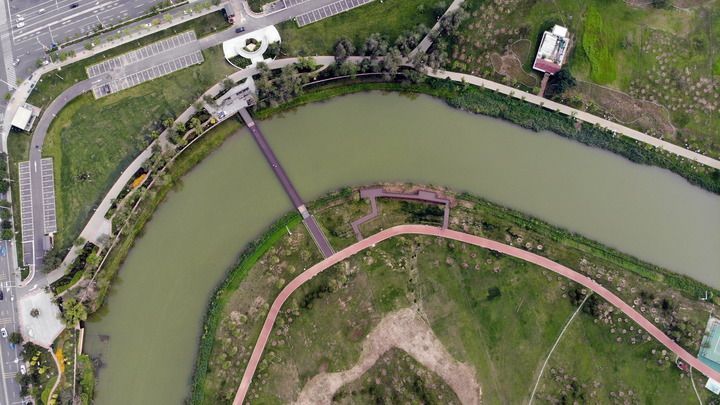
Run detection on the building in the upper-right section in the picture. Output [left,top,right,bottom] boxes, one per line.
[530,25,570,77]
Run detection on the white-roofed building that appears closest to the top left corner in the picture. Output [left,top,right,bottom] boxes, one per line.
[12,107,39,131]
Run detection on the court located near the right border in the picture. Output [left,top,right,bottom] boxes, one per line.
[699,315,720,372]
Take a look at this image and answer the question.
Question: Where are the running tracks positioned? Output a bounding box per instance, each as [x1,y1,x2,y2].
[233,224,720,405]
